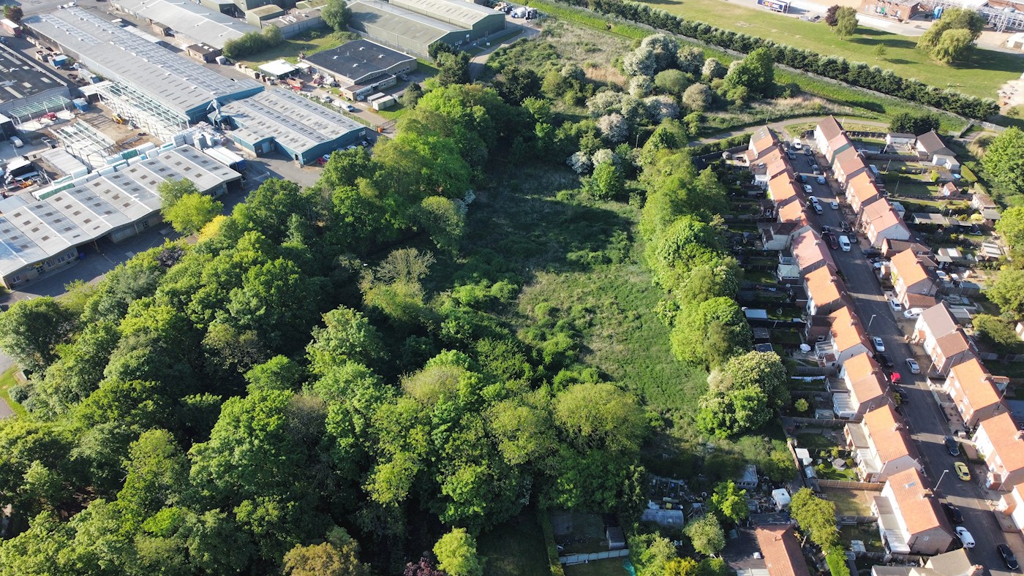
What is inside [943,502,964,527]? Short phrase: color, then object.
black car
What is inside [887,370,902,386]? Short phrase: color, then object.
red car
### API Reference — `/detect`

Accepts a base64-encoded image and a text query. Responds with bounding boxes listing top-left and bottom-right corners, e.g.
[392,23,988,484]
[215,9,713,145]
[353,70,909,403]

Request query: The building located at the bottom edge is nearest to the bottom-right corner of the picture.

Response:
[982,488,1024,560]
